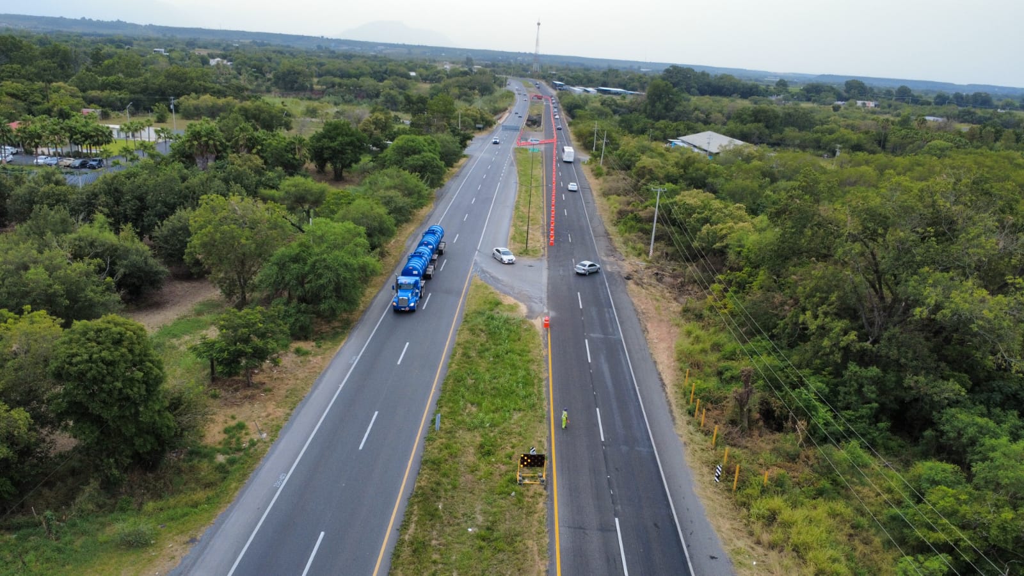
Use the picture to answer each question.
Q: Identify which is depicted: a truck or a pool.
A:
truck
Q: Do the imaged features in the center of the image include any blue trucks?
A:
Yes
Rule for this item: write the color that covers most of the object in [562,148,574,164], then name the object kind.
white vehicle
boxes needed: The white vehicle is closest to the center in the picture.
[494,249,517,265]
